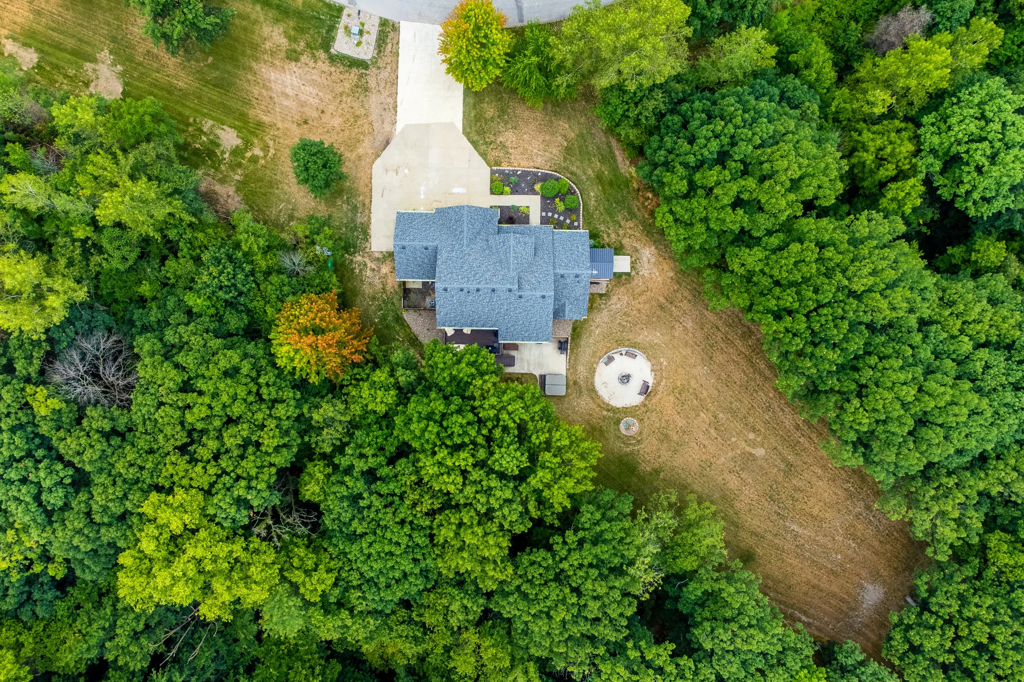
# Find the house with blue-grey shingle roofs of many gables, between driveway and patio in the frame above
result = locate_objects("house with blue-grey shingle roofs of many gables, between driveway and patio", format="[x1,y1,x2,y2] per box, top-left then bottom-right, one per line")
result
[393,205,591,344]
